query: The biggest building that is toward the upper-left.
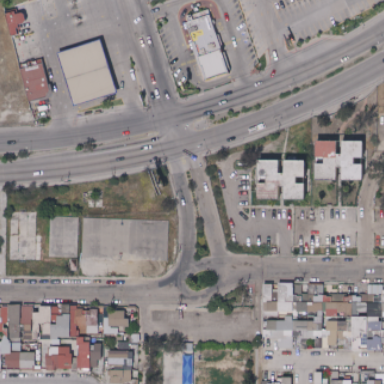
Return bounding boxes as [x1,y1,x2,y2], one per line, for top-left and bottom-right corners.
[58,39,116,105]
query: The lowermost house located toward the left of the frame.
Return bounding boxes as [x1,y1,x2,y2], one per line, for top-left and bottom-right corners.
[108,368,138,383]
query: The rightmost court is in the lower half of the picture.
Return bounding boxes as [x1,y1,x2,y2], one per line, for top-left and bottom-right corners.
[130,219,168,260]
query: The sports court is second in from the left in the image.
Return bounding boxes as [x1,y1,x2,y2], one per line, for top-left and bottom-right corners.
[49,216,78,257]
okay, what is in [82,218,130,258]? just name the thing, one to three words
sports court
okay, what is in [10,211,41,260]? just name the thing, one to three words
sports court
